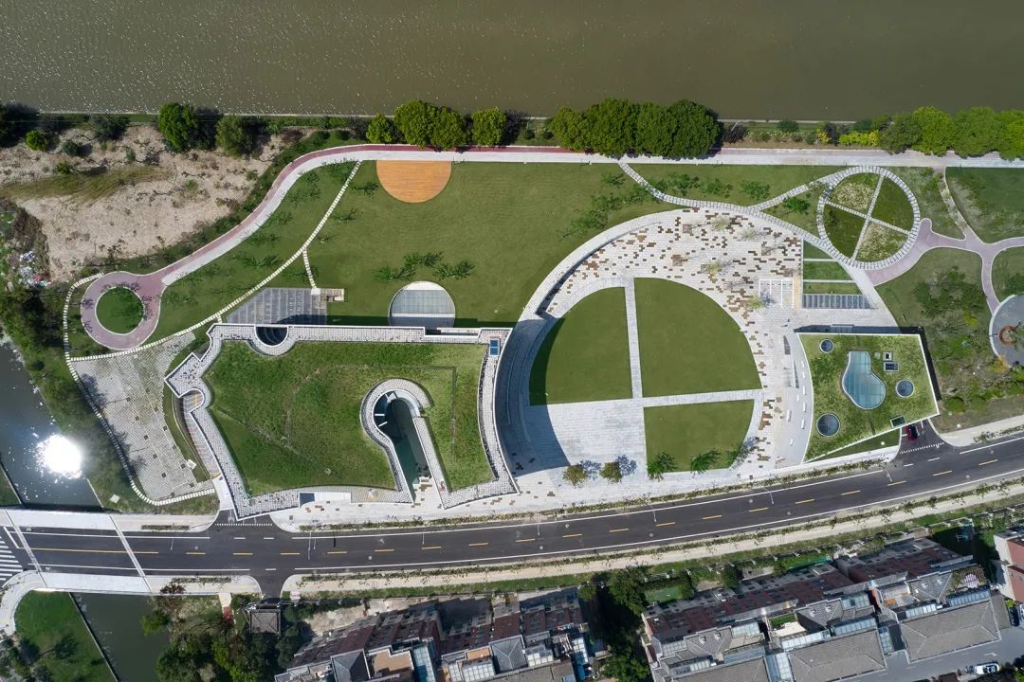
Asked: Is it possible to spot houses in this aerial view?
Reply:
Yes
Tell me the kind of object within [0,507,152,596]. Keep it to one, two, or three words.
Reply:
bridge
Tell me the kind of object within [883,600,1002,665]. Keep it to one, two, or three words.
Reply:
house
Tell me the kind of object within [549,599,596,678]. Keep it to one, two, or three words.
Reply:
house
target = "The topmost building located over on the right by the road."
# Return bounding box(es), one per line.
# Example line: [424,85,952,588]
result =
[775,325,940,468]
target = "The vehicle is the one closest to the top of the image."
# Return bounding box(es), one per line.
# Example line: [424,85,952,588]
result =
[906,424,921,443]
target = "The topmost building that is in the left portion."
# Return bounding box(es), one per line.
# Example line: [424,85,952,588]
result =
[164,324,519,522]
